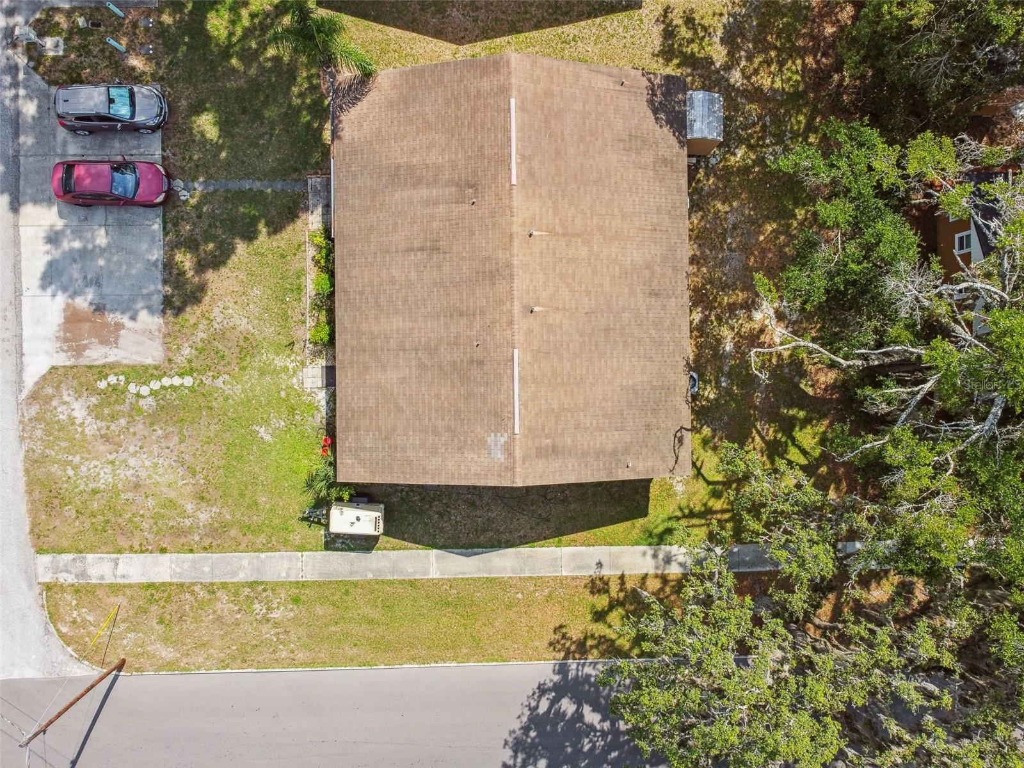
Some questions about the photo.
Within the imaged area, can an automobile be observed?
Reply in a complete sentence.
Yes, an automobile is visible in the scene.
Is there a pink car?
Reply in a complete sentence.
Yes, there's a pink car down there.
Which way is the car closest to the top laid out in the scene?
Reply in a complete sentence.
What the image shows is the car closest to the top lying from side to side.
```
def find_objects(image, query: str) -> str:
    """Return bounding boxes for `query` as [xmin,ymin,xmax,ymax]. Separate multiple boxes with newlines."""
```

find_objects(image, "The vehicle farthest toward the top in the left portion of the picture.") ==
[53,78,170,134]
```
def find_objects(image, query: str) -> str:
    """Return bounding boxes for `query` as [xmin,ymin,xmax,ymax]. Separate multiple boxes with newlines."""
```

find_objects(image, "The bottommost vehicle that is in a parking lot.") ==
[52,153,173,207]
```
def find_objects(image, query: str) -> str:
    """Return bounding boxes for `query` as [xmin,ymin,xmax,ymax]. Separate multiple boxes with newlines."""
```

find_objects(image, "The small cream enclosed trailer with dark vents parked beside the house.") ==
[307,500,385,537]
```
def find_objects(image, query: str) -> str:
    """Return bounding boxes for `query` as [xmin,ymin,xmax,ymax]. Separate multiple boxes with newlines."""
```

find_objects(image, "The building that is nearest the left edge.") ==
[330,54,689,486]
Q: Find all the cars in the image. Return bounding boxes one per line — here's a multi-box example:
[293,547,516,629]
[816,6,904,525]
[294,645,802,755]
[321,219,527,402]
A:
[52,153,173,207]
[53,78,170,134]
